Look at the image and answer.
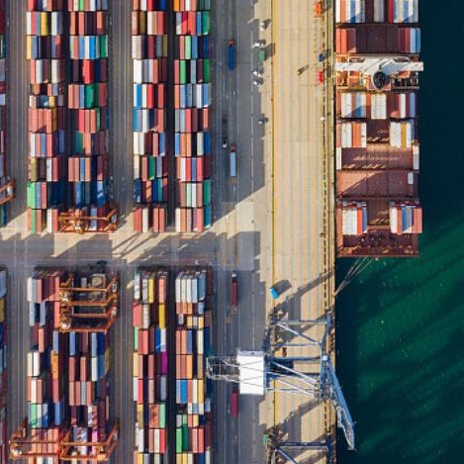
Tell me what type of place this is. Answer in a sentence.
What you see here is a port.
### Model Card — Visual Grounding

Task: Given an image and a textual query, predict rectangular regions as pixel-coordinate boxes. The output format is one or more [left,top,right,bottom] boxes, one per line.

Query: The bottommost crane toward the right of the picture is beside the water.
[261,414,329,464]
